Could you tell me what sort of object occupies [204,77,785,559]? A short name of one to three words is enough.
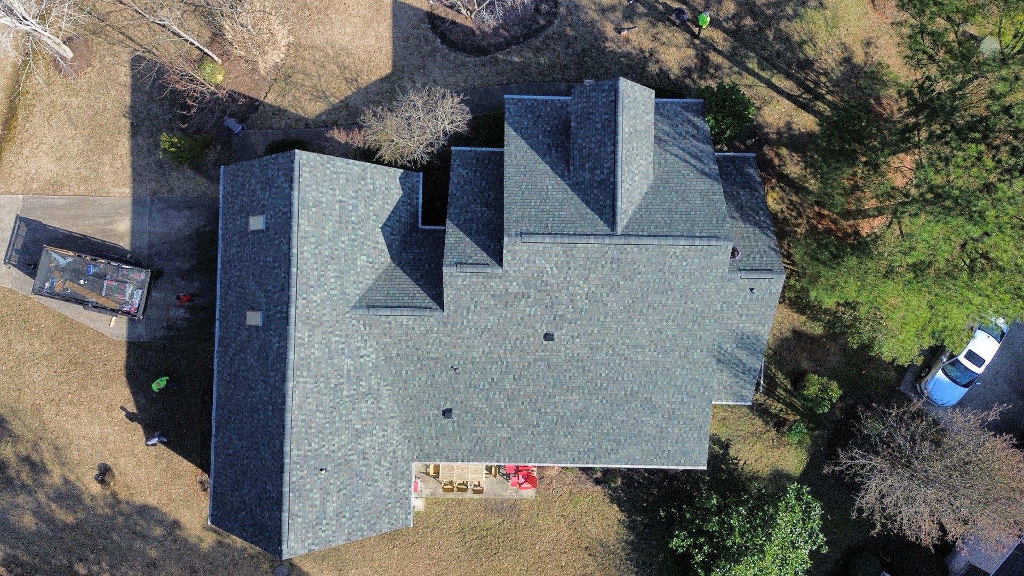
house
